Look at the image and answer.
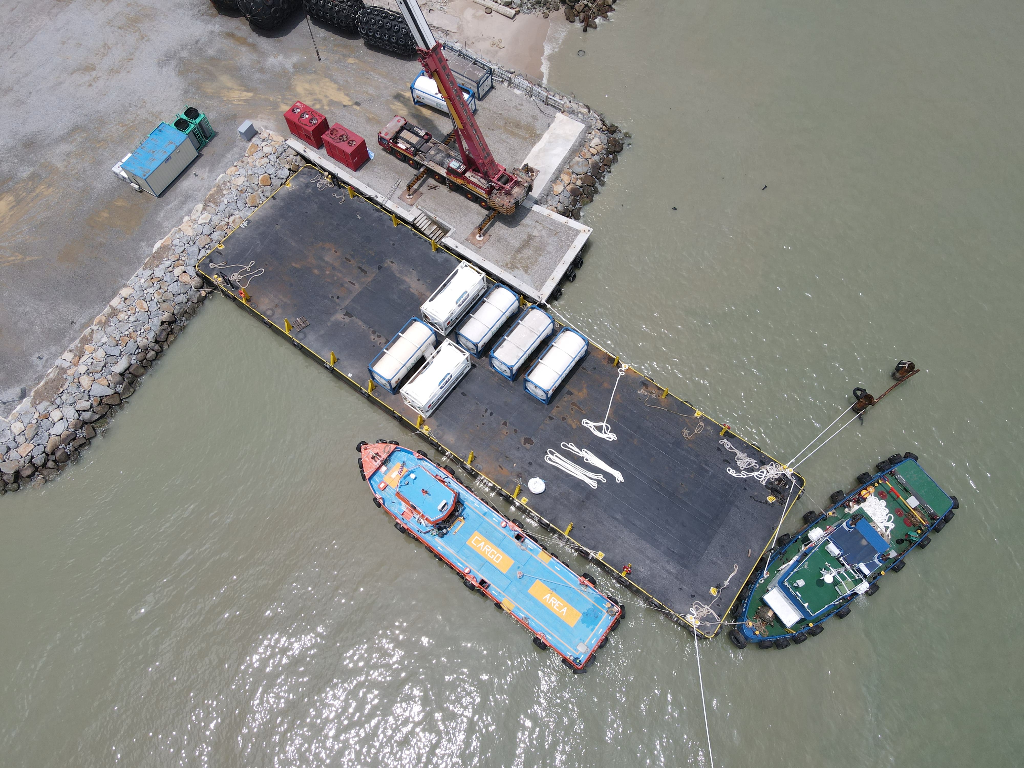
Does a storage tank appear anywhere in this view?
Yes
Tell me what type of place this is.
port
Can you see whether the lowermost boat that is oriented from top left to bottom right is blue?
Yes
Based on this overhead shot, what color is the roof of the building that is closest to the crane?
blue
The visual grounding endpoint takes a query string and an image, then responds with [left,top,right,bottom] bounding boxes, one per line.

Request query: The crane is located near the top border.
[312,0,534,239]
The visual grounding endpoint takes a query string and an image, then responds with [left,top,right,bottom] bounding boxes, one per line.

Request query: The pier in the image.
[285,91,593,308]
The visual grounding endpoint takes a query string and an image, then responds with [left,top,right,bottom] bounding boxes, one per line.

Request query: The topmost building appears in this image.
[118,123,197,197]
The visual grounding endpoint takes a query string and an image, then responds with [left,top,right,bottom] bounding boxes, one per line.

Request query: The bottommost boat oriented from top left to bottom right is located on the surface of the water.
[356,439,627,677]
